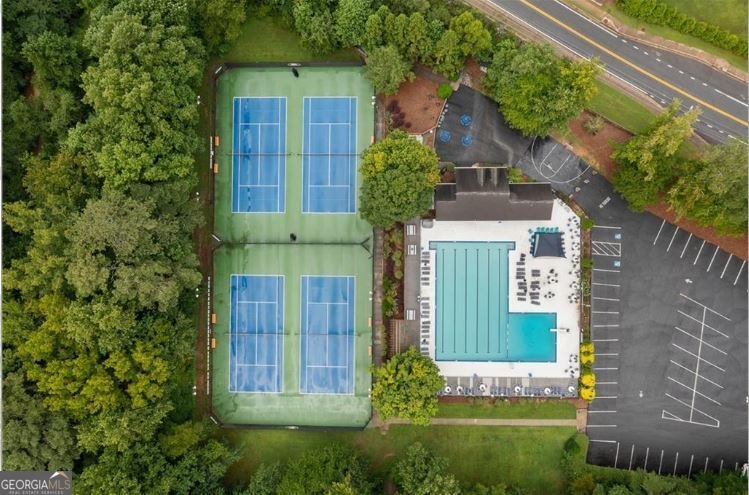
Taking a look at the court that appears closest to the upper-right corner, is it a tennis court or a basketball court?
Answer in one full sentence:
From above, the court that appears closest to the upper-right corner can be identified as a basketball court.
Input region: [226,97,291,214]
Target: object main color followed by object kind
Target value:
blue tennis court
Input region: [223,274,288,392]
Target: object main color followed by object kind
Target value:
blue tennis court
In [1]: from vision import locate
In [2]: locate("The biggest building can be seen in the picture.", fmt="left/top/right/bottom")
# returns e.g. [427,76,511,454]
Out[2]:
[436,167,555,222]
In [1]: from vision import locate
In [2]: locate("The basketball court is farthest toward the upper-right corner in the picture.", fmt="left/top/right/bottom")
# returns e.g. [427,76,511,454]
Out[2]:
[516,130,598,196]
